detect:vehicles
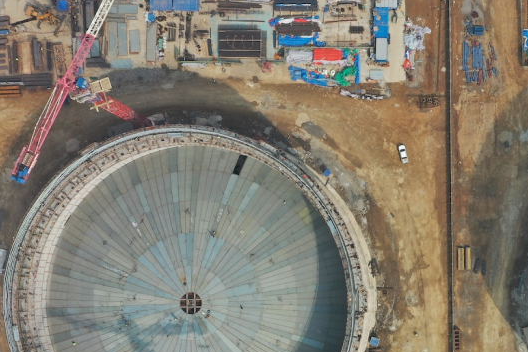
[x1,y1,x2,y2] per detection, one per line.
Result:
[398,144,408,163]
[369,252,381,276]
